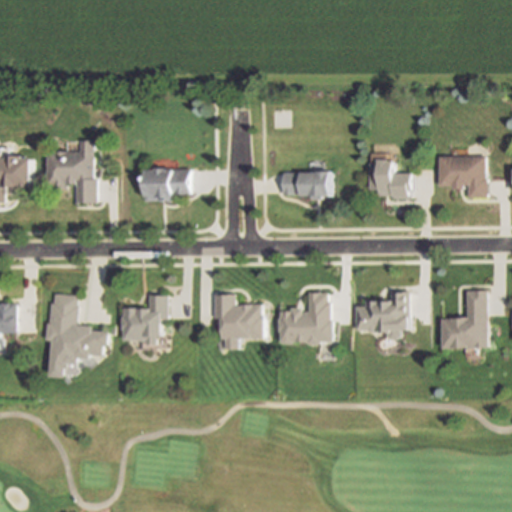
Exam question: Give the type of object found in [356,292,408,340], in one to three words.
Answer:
house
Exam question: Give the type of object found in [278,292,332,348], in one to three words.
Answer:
house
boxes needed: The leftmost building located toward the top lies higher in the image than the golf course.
[0,154,30,205]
